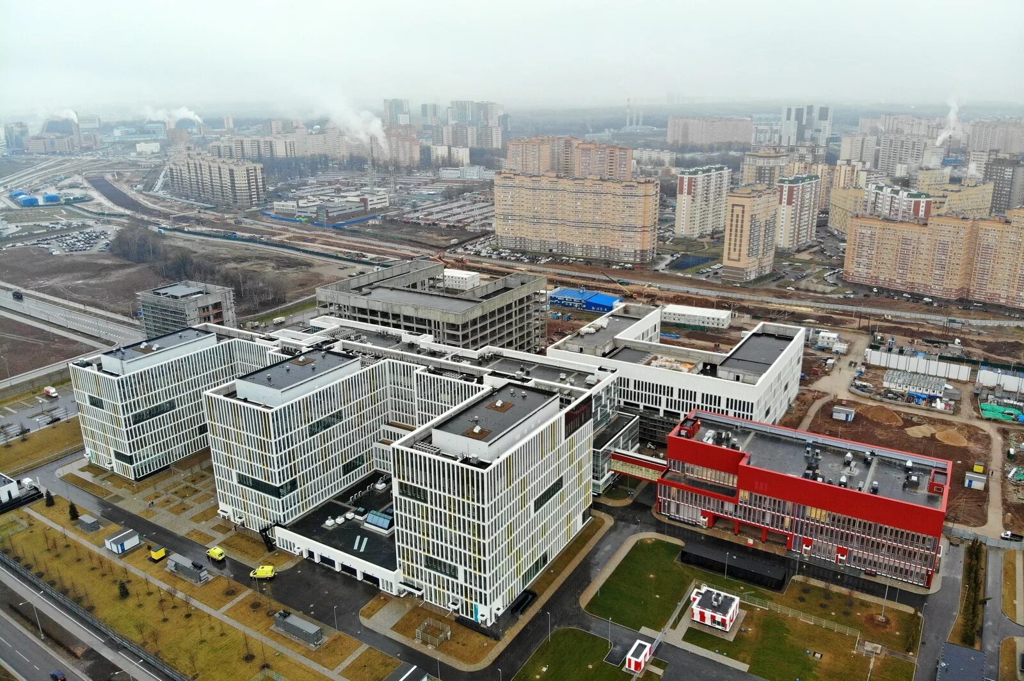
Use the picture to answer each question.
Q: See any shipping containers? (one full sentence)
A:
Yes, I can see a shipping container in this picture.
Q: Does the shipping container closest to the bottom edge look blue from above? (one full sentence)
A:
No, from above the shipping container closest to the bottom edge looks gray.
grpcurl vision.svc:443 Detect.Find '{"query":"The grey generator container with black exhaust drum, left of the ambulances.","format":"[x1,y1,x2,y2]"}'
[164,549,215,587]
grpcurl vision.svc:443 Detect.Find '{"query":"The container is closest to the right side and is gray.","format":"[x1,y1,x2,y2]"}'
[268,605,333,649]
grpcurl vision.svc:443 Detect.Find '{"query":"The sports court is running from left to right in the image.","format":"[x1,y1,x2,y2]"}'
[669,254,715,270]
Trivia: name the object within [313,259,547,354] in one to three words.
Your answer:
building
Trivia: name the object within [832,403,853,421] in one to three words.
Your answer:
shed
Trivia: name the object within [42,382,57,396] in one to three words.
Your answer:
vehicle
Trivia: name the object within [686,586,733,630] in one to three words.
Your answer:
building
